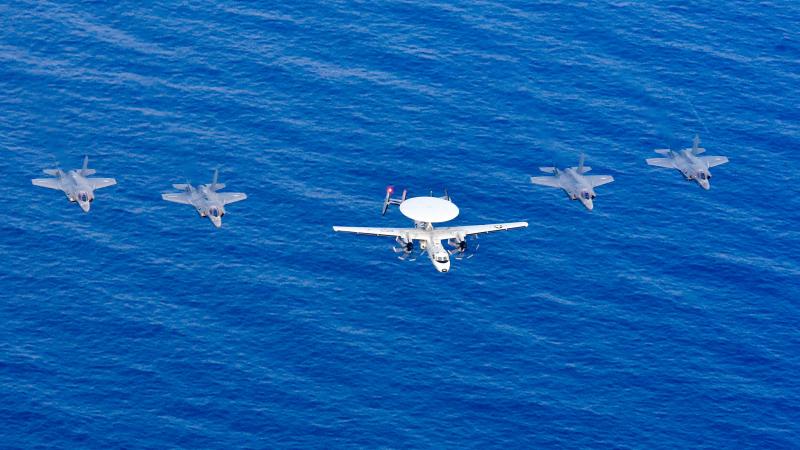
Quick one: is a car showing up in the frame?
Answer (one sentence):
No, I find no car anywhere in the image.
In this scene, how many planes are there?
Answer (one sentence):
The number of planes here is 5.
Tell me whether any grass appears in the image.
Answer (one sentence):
No, grass can't be seen anywhere here.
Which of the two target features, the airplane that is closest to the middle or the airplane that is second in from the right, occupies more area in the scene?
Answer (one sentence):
The larger object is the airplane that is closest to the middle, with the airplane that is second in from the right being the smaller of the pair.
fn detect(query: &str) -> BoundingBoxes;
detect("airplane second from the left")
[163,170,248,227]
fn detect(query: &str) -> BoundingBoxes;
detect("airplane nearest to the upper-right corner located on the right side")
[647,135,730,189]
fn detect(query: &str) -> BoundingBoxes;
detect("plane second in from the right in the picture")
[532,154,615,209]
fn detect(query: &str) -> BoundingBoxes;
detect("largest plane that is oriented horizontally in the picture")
[334,187,529,273]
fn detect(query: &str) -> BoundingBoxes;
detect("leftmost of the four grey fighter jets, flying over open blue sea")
[33,156,116,211]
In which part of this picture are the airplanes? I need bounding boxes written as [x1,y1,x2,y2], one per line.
[334,187,529,273]
[163,170,248,227]
[532,154,615,209]
[647,135,730,189]
[33,156,116,211]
